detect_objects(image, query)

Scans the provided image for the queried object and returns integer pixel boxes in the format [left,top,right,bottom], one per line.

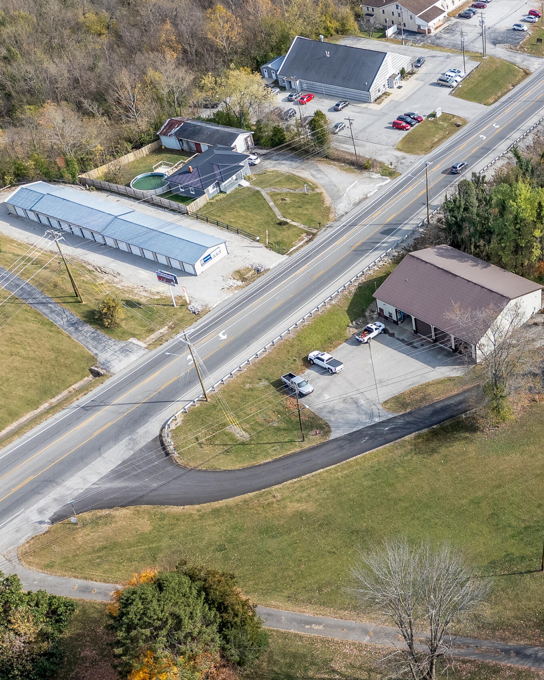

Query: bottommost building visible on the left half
[7,179,228,273]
